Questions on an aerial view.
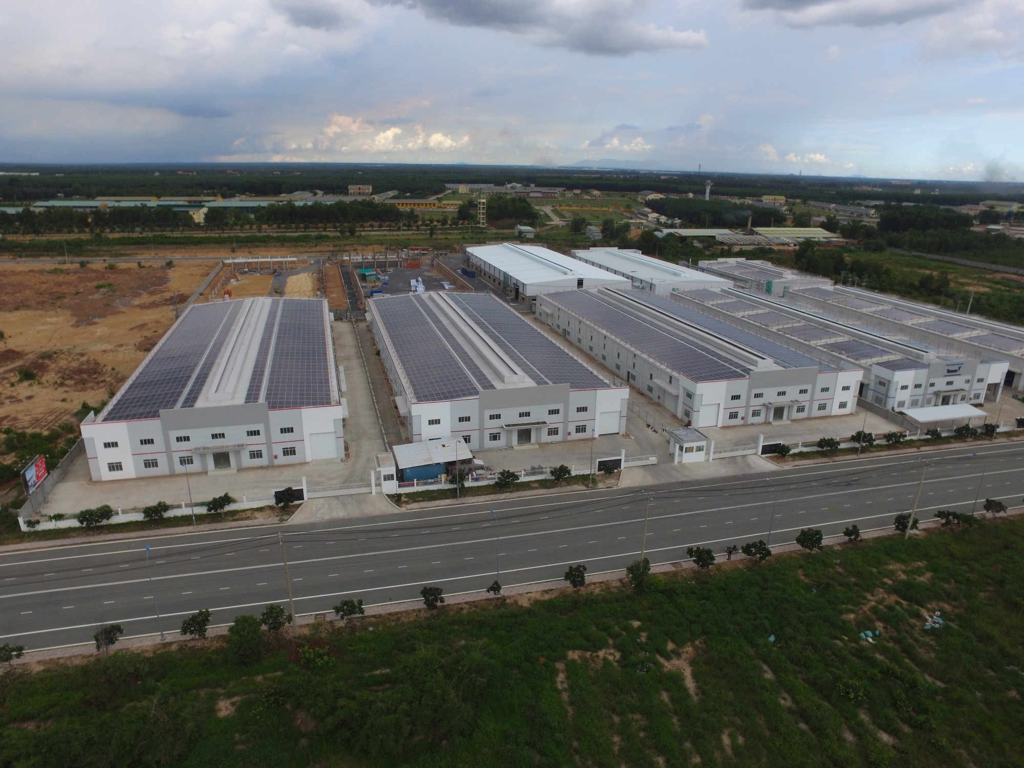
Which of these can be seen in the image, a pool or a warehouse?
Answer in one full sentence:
Looking from above, you can make out a warehouse.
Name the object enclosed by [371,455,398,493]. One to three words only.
building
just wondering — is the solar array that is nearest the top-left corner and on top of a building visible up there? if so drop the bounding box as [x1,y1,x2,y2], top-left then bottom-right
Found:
[104,299,326,421]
